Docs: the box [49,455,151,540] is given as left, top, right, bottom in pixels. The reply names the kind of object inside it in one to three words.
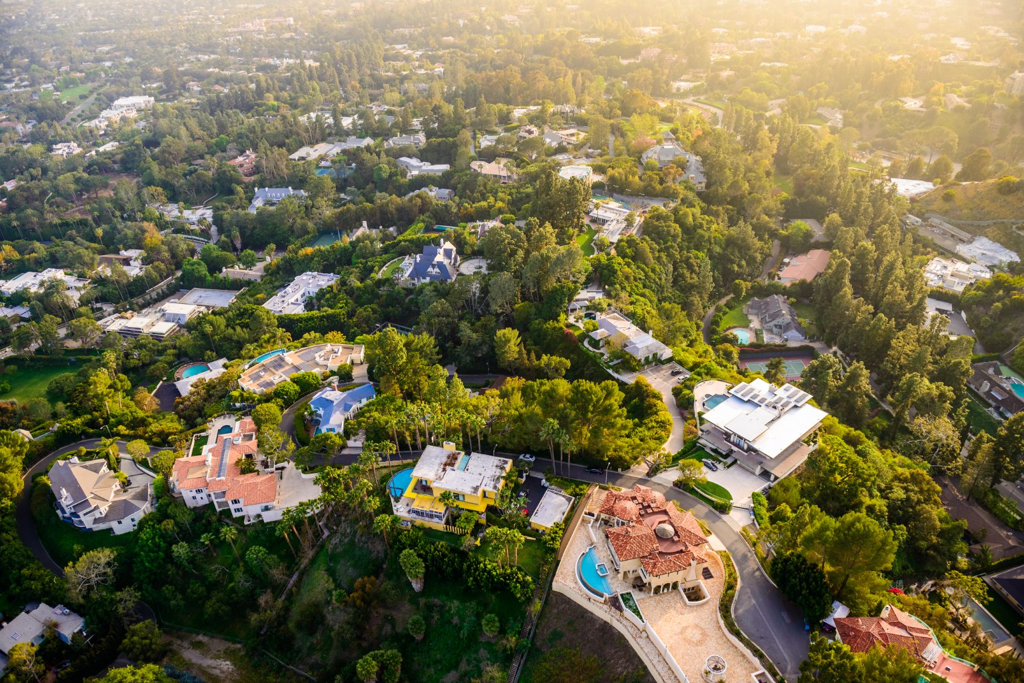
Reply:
house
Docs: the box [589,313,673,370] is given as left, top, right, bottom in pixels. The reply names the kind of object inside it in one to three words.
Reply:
house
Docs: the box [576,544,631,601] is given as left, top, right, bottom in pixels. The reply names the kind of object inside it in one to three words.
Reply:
swimming pool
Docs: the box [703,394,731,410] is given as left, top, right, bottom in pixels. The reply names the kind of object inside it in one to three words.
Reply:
swimming pool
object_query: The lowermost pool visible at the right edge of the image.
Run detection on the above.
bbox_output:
[965,607,1011,647]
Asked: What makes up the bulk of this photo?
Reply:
trees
